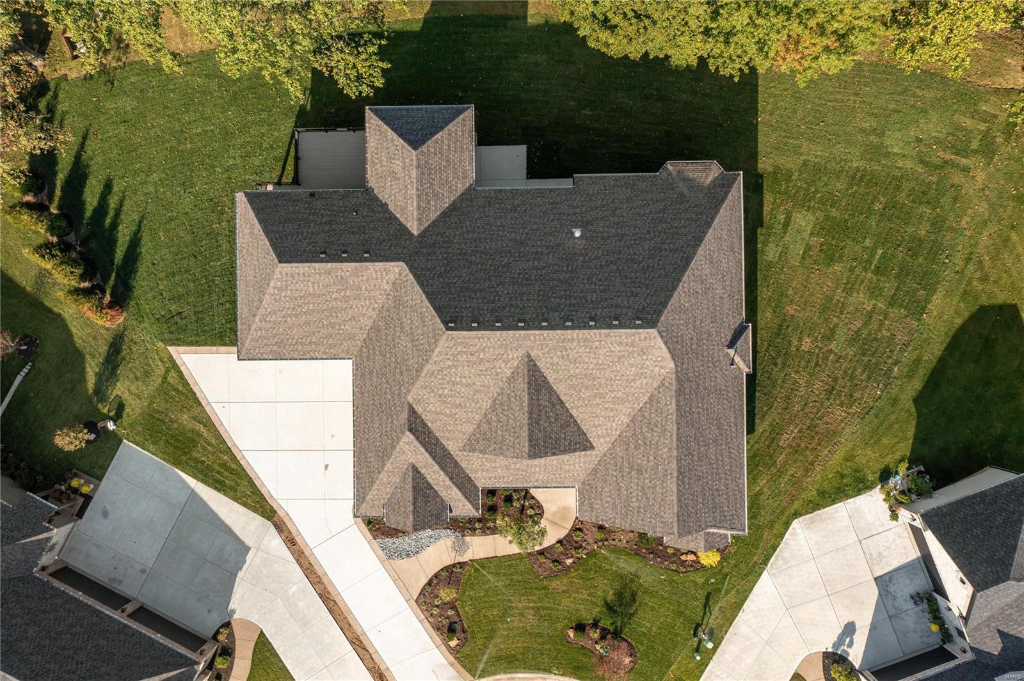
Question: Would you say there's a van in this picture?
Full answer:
No, the frame has no van in it.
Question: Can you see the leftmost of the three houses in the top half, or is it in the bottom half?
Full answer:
The leftmost of the three houses is in the bottom half of the image.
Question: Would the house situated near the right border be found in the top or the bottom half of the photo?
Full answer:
The house situated near the right border is in the bottom half of the image.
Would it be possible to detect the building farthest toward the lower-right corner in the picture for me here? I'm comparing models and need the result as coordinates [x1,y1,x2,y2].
[865,466,1024,681]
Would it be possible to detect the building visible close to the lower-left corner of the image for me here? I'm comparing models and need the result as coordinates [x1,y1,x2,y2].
[0,477,220,681]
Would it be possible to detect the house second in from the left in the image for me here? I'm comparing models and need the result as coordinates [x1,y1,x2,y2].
[235,103,754,552]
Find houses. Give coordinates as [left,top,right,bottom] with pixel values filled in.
[865,466,1024,681]
[0,477,220,681]
[235,103,754,552]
